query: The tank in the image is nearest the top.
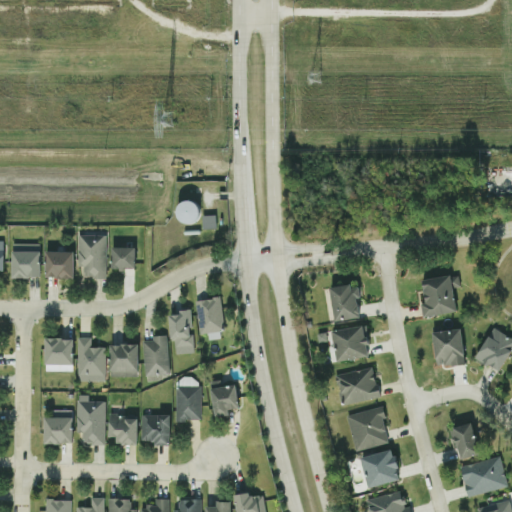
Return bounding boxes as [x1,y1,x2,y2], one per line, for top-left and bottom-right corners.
[174,198,203,226]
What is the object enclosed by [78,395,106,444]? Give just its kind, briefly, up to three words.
house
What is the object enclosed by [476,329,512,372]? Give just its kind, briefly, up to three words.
house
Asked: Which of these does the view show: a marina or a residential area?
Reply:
residential area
